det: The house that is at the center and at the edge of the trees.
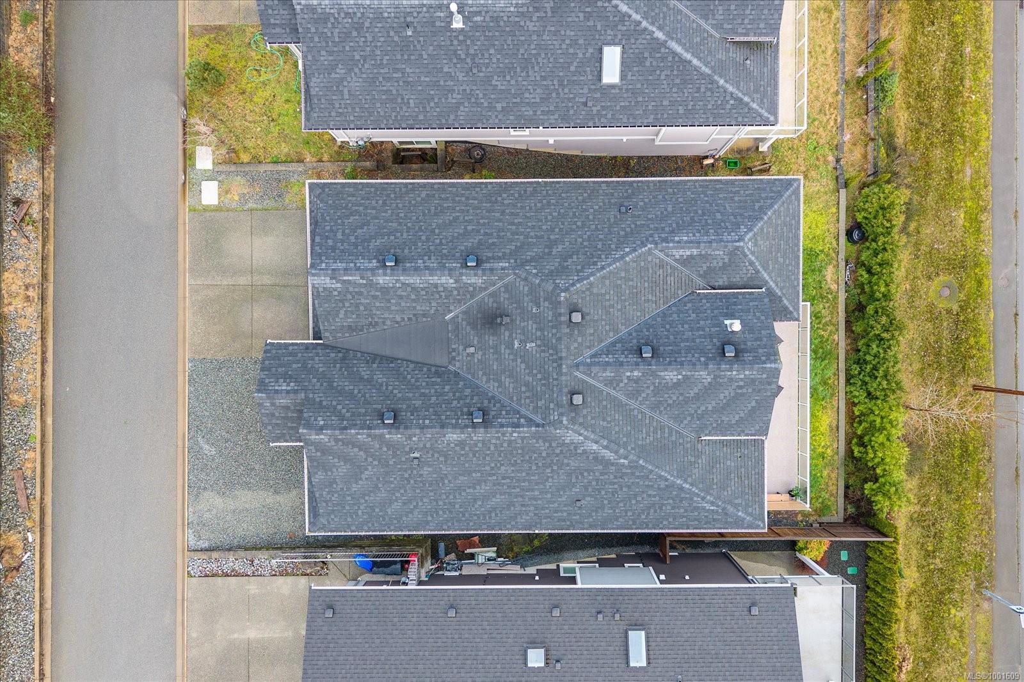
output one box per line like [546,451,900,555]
[256,176,817,535]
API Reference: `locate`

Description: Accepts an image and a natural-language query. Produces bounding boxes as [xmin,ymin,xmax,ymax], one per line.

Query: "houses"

[256,176,817,535]
[259,0,807,164]
[303,549,854,682]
